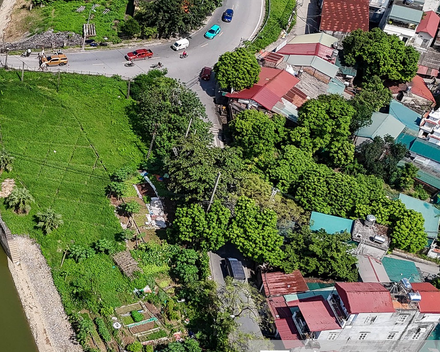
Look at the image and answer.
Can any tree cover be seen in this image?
Yes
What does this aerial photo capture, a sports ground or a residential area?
residential area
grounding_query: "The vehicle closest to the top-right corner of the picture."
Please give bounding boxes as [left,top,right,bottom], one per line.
[222,8,235,23]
